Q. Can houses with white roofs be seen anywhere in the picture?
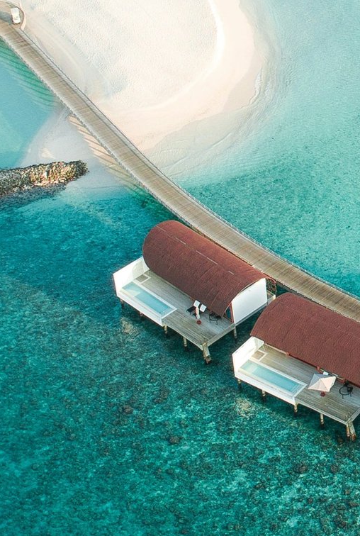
No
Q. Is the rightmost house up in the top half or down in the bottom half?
bottom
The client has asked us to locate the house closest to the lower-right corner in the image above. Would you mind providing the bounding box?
[233,293,360,447]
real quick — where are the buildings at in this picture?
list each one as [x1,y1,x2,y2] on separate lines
[114,226,272,374]
[233,293,360,447]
